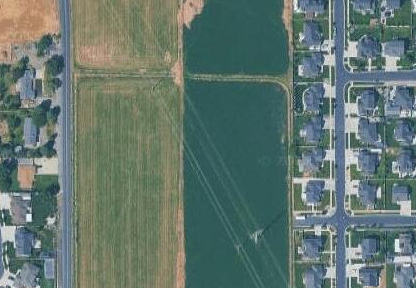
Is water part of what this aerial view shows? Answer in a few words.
No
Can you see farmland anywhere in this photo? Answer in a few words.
Yes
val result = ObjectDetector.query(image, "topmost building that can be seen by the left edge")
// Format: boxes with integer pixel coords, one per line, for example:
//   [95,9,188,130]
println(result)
[21,70,35,100]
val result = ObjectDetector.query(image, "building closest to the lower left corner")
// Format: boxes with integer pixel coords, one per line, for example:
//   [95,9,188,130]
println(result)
[16,262,42,288]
